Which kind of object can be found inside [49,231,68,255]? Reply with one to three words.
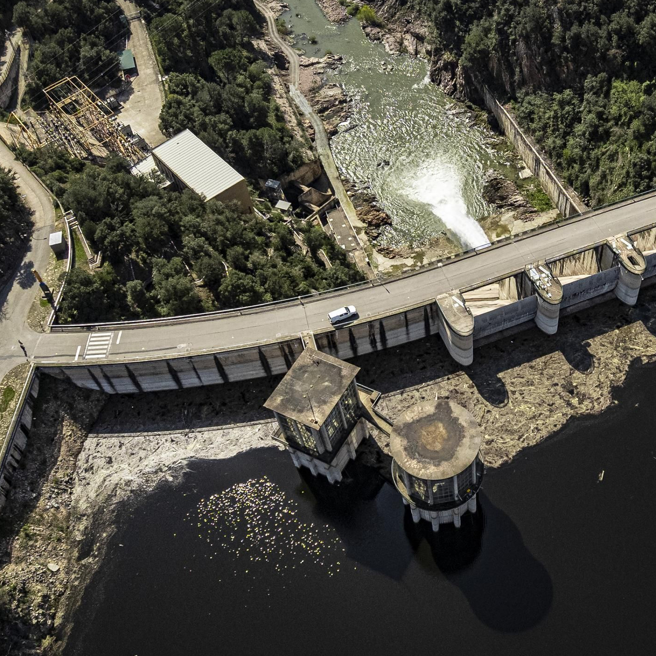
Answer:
shed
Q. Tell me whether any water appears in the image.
Yes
